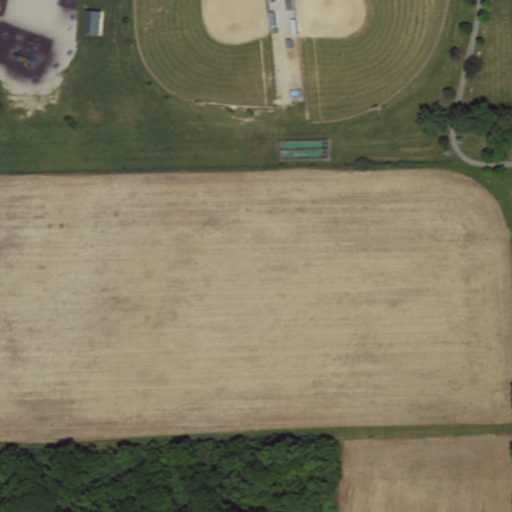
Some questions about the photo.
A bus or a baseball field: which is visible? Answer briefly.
baseball field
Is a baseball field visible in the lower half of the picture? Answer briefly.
No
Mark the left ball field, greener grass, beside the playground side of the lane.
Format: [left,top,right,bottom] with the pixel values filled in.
[132,0,276,108]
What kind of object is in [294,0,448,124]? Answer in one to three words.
baseball field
